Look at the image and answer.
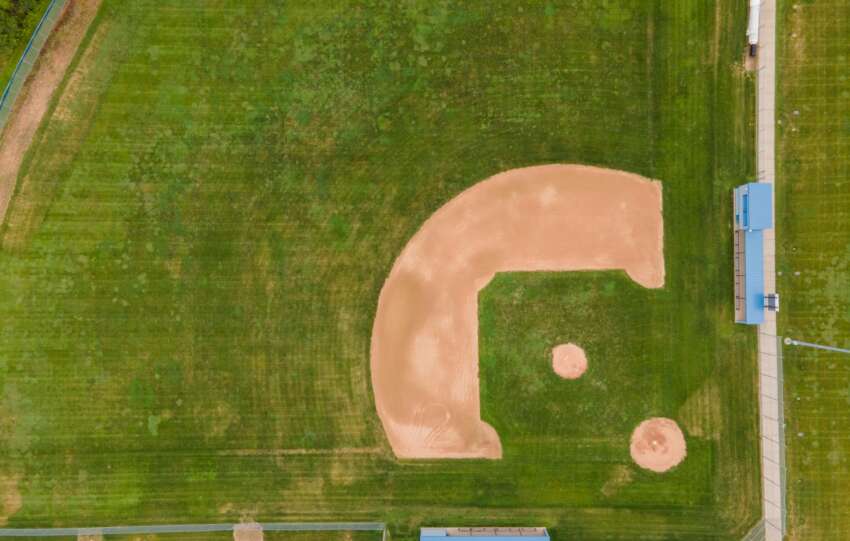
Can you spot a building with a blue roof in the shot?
Yes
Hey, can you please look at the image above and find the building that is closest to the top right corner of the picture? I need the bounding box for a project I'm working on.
[735,183,773,232]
